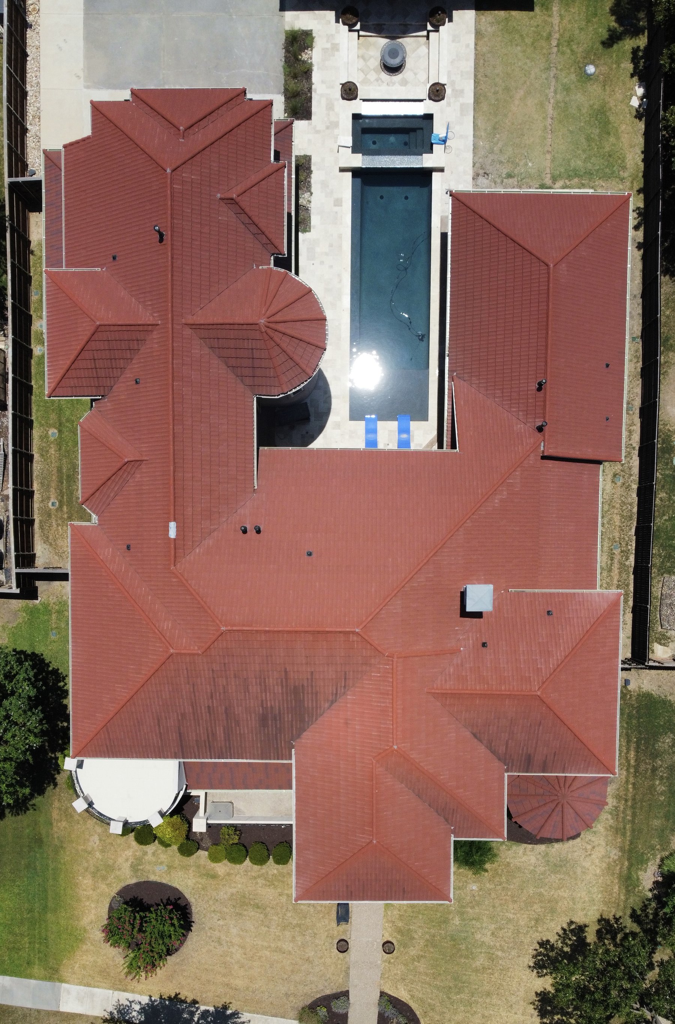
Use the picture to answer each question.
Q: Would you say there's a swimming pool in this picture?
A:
Yes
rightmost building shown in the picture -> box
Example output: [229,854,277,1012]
[40,86,634,905]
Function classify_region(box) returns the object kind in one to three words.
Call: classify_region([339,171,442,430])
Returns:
swimming pool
